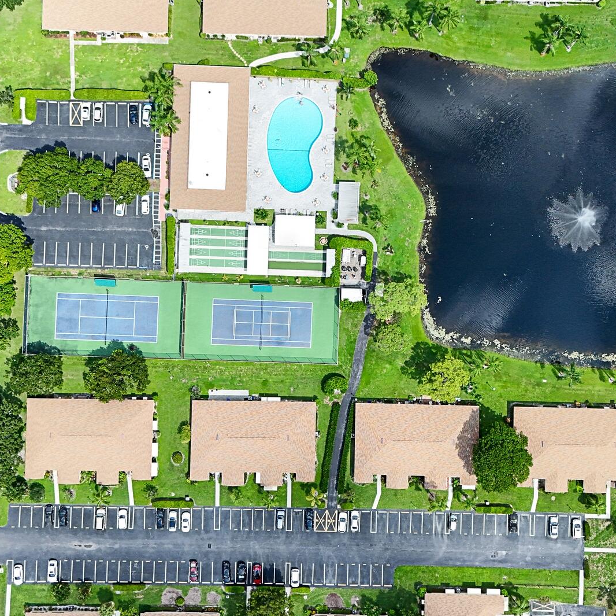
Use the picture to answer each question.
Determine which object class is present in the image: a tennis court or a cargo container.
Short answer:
tennis court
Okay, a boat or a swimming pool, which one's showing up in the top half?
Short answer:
swimming pool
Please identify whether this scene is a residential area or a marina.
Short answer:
residential area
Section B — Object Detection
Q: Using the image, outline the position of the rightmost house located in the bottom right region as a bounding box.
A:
[511,405,616,494]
